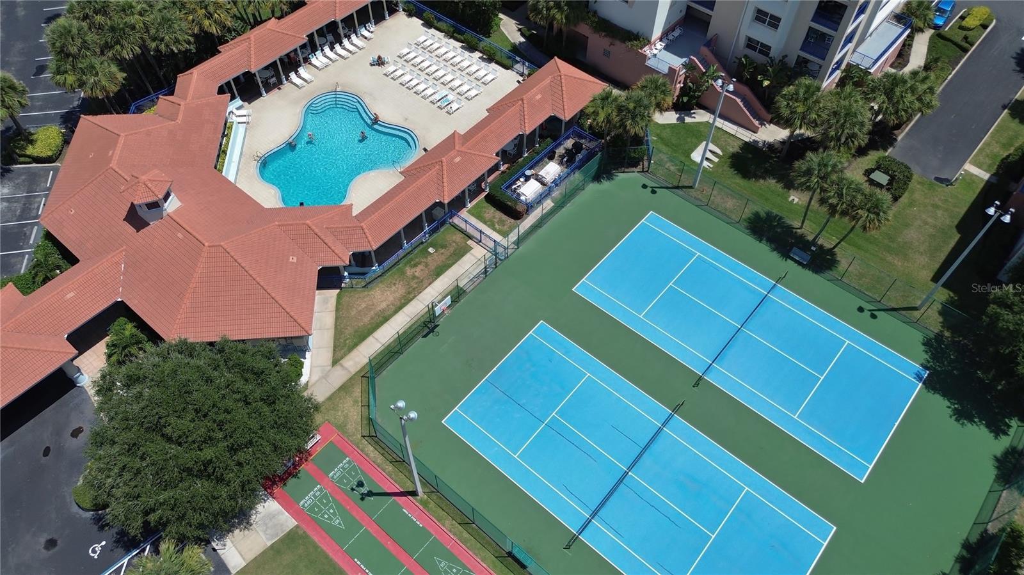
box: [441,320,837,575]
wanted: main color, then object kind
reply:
blue tennis court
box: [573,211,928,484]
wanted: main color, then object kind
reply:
blue tennis court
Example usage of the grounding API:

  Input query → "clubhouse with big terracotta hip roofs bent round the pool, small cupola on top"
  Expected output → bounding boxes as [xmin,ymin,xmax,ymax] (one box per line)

[0,93,355,450]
